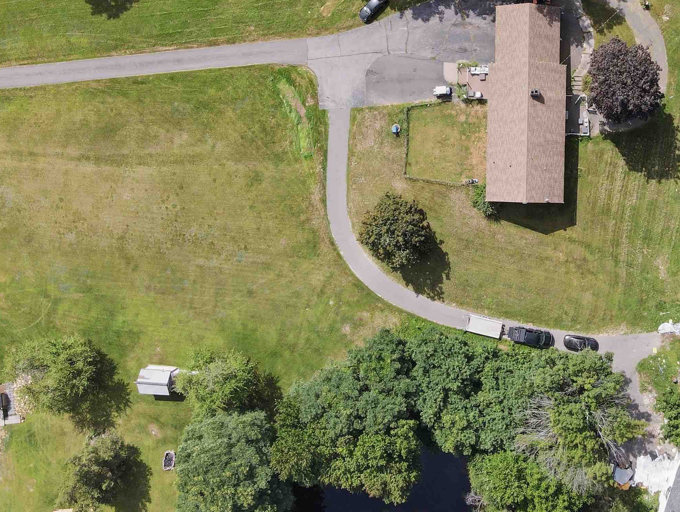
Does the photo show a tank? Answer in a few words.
No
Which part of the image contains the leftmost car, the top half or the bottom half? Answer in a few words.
top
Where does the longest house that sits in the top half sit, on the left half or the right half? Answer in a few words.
right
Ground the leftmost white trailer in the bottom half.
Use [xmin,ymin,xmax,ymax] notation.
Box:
[459,314,508,338]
